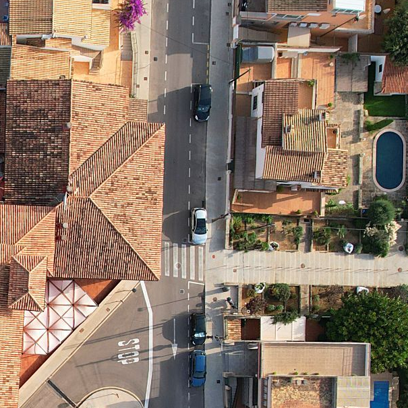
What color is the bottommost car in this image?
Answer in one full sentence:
The color of the bottommost car is blue.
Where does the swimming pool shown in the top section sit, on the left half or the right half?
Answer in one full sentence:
The swimming pool shown in the top section appears in the right half of the scene.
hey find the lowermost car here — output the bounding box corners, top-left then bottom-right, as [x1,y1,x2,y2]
[187,350,209,388]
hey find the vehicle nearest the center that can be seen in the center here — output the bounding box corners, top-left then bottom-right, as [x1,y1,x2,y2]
[189,206,210,244]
